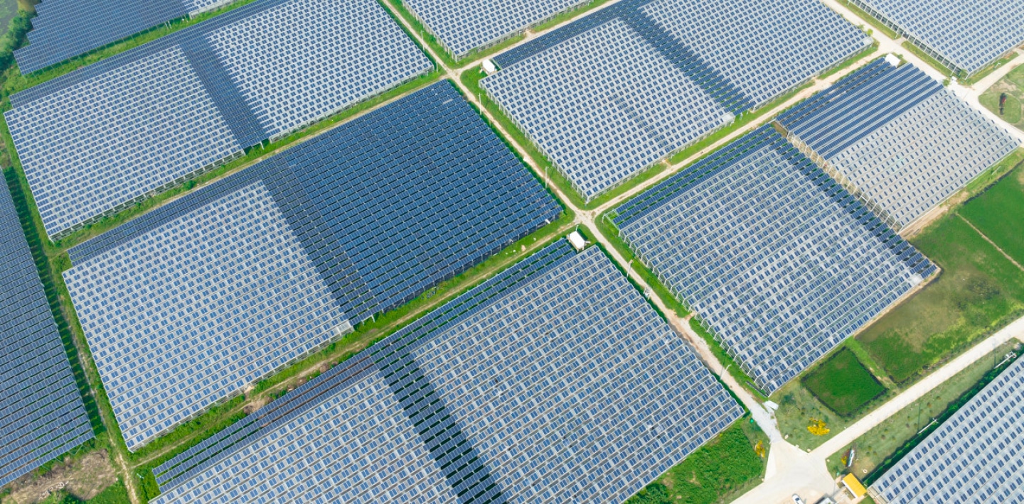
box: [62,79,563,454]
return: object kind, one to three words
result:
greenhouse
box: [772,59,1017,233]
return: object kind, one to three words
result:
greenhouse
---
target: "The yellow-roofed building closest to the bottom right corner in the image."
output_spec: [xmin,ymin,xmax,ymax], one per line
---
[836,473,866,503]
